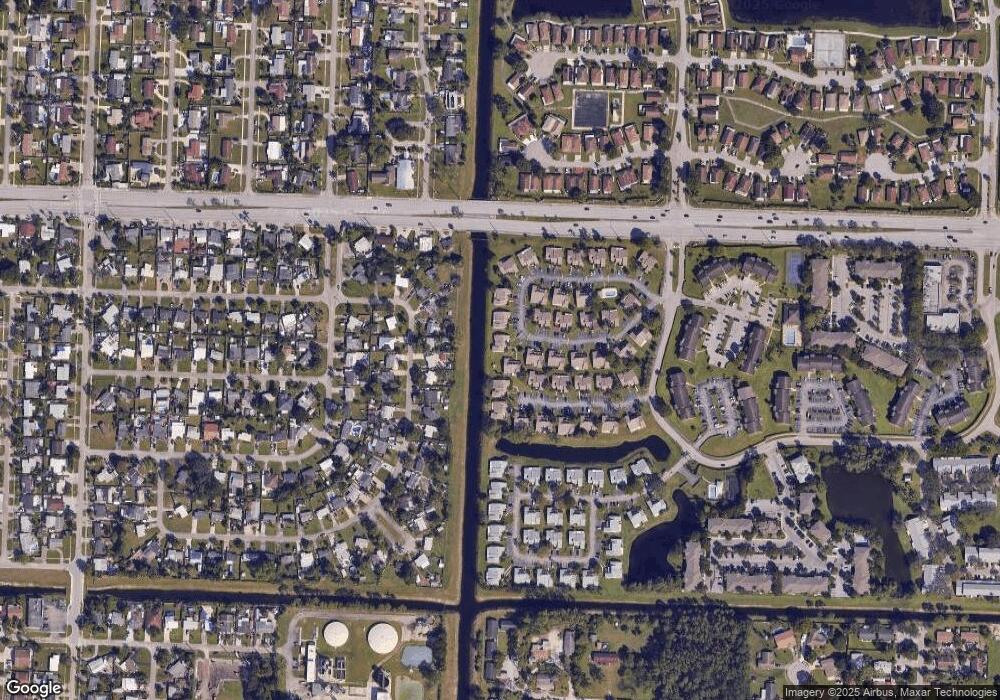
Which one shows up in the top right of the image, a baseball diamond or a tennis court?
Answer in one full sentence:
Looking in the top right of the image, you will find a tennis court.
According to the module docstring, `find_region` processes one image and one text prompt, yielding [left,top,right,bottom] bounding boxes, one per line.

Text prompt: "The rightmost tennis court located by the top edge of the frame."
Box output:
[814,32,846,68]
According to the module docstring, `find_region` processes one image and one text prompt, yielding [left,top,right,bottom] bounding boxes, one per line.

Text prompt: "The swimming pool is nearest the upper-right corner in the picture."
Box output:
[786,32,804,48]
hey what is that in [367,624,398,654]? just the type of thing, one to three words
storage tank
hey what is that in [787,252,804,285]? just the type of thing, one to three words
tennis court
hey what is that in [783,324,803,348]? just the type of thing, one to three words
swimming pool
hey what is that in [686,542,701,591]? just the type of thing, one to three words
building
